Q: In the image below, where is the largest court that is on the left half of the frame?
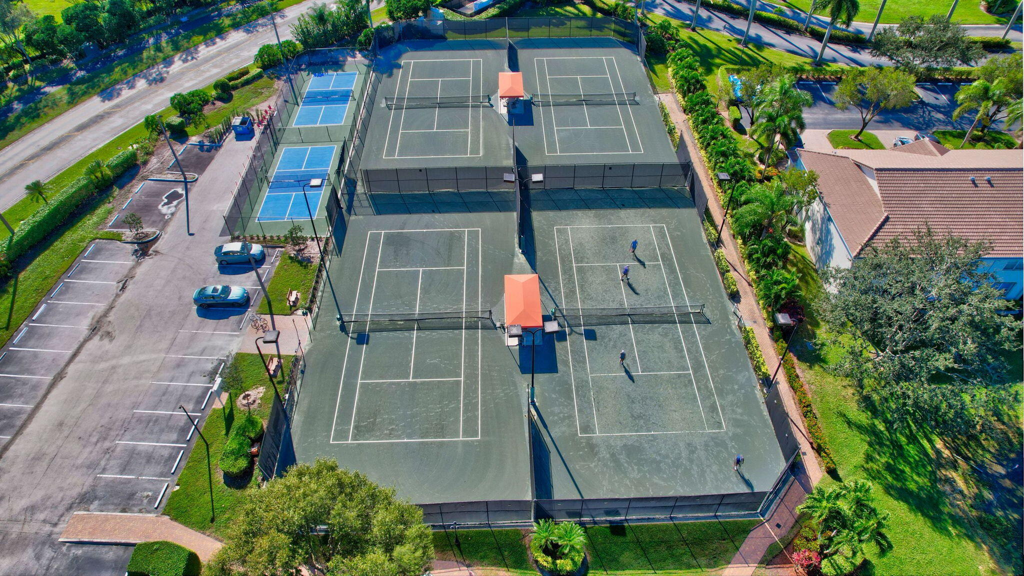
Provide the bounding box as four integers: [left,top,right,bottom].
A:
[274,191,534,526]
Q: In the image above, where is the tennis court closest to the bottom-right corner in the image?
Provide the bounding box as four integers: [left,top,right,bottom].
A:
[515,187,787,521]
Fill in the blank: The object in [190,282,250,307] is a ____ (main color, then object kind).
blue car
